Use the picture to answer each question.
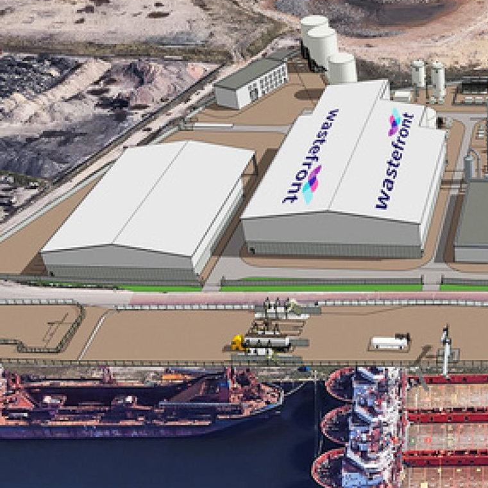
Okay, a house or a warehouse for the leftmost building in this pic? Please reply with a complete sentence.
The leftmost building appears to be a warehouse.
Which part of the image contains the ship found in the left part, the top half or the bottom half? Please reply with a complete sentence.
It is in the bottom half that the ship found in the left part appears.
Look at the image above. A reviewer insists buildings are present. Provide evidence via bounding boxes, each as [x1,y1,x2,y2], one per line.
[241,76,448,258]
[214,53,301,106]
[455,180,488,265]
[39,139,256,282]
